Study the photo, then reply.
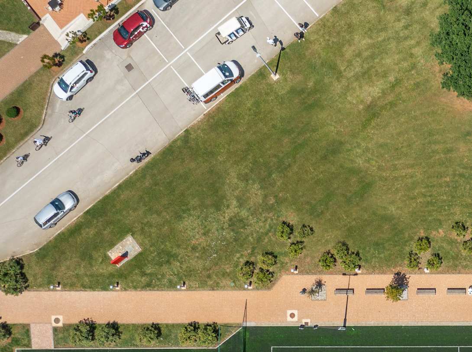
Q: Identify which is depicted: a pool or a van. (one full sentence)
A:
There is a van in the scene.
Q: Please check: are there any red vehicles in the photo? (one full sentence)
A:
Yes, the image includes a red vehicle.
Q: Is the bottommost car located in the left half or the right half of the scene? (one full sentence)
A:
The bottommost car appears in the left half of the scene.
